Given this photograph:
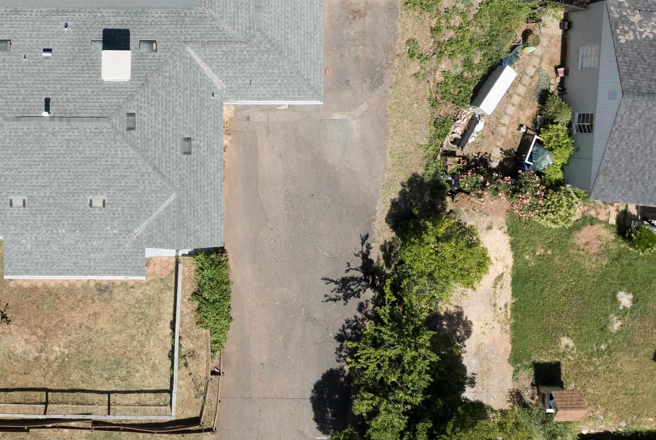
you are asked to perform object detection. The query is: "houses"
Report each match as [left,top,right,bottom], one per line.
[0,0,325,282]
[563,0,656,239]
